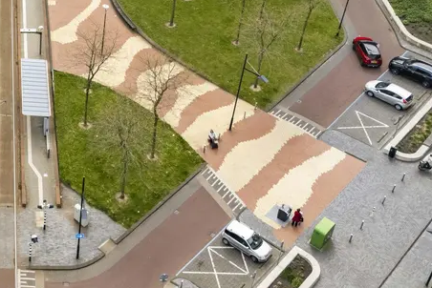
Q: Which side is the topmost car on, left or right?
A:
right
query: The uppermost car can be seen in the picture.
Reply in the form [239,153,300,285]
[350,36,384,65]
